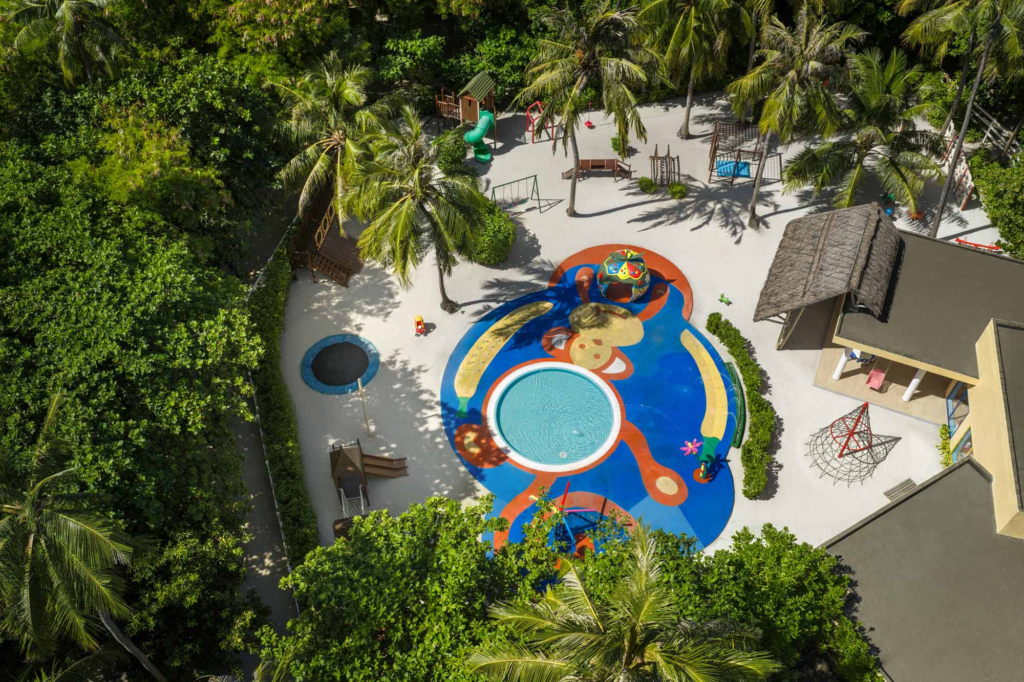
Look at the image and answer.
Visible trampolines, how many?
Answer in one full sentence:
I count just 1 trampoline.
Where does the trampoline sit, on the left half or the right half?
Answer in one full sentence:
The trampoline sits on the left side.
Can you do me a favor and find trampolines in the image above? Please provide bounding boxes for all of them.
[301,334,379,398]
